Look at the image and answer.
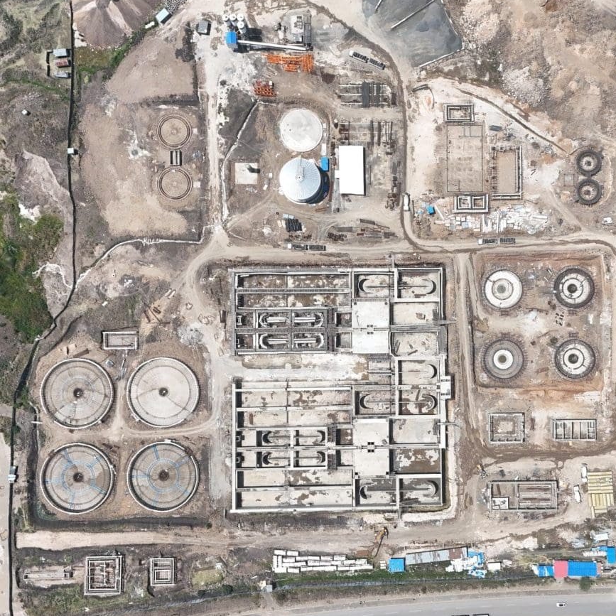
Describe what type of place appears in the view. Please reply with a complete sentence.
What you see here is an industrial area.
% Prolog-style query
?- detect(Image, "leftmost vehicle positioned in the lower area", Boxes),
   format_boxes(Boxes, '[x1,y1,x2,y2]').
[374,526,387,551]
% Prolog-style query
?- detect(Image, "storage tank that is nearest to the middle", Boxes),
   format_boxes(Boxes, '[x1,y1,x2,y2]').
[279,154,329,205]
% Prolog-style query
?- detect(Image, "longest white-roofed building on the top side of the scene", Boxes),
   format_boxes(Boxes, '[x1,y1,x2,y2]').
[340,145,365,195]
